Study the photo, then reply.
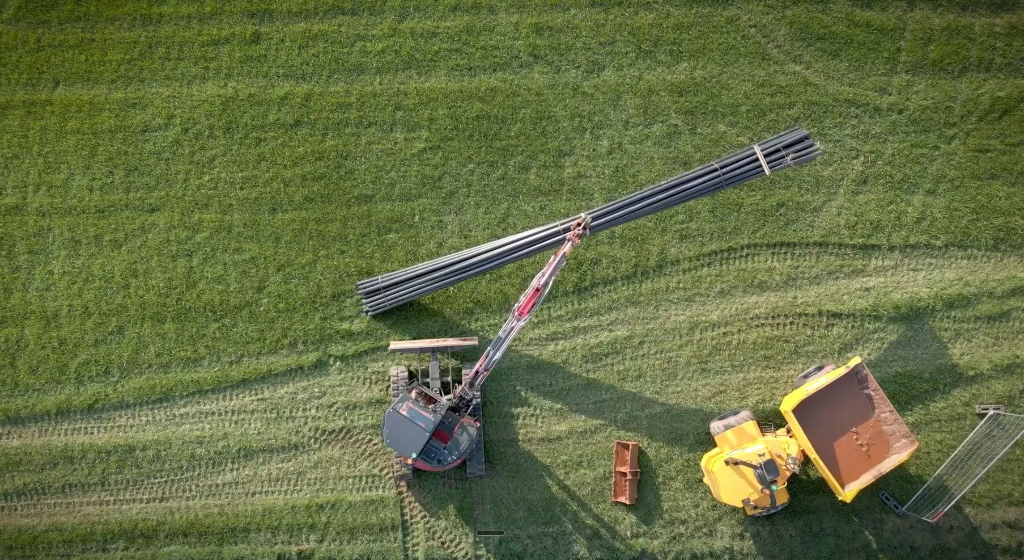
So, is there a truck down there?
Yes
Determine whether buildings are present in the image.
No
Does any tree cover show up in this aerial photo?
No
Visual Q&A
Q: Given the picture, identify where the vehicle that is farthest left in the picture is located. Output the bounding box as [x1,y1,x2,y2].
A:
[382,209,593,481]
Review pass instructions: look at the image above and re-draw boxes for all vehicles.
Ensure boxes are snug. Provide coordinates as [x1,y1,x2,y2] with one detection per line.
[698,356,918,514]
[382,209,593,481]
